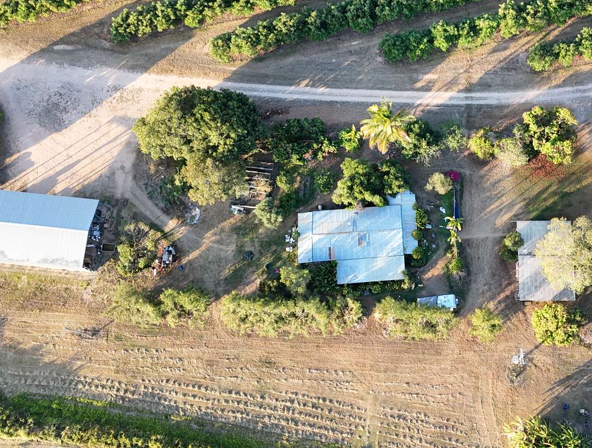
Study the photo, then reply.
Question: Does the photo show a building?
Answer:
Yes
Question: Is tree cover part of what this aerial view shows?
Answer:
Yes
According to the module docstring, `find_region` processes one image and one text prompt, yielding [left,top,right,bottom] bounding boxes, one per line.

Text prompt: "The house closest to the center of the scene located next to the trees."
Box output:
[298,192,418,286]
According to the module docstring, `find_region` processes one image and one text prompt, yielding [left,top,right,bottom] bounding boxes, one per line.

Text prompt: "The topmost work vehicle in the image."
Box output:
[230,203,245,215]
